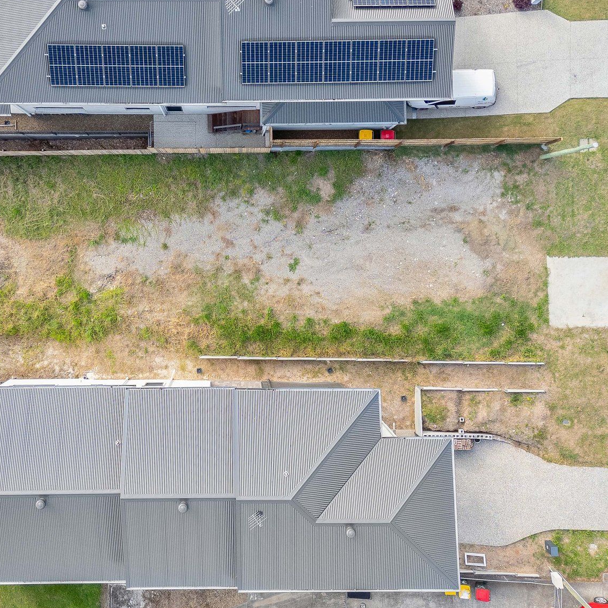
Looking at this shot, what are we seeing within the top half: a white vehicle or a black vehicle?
white vehicle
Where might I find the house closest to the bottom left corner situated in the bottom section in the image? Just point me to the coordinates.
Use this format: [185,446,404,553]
[0,369,463,594]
